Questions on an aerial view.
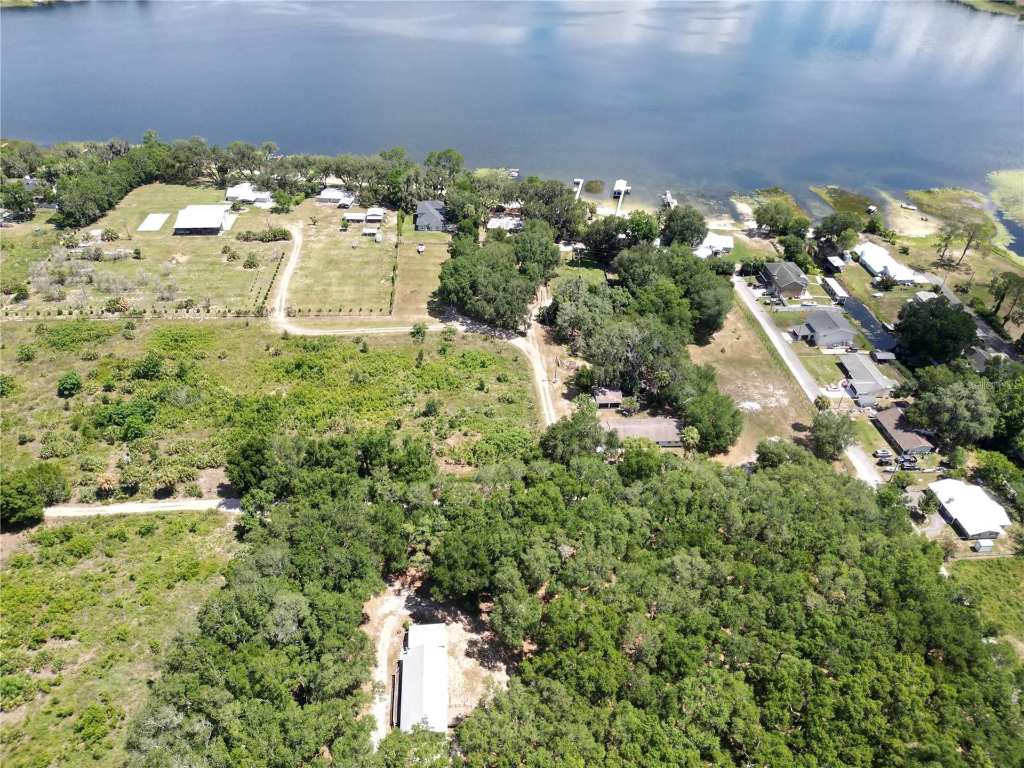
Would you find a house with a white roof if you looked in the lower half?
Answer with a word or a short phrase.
Yes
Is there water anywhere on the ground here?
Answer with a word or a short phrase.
Yes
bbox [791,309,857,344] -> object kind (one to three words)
house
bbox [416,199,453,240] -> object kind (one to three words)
house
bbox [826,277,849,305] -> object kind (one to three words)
building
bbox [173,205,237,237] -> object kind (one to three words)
barn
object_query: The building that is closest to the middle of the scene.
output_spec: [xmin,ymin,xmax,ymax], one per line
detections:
[594,389,622,409]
